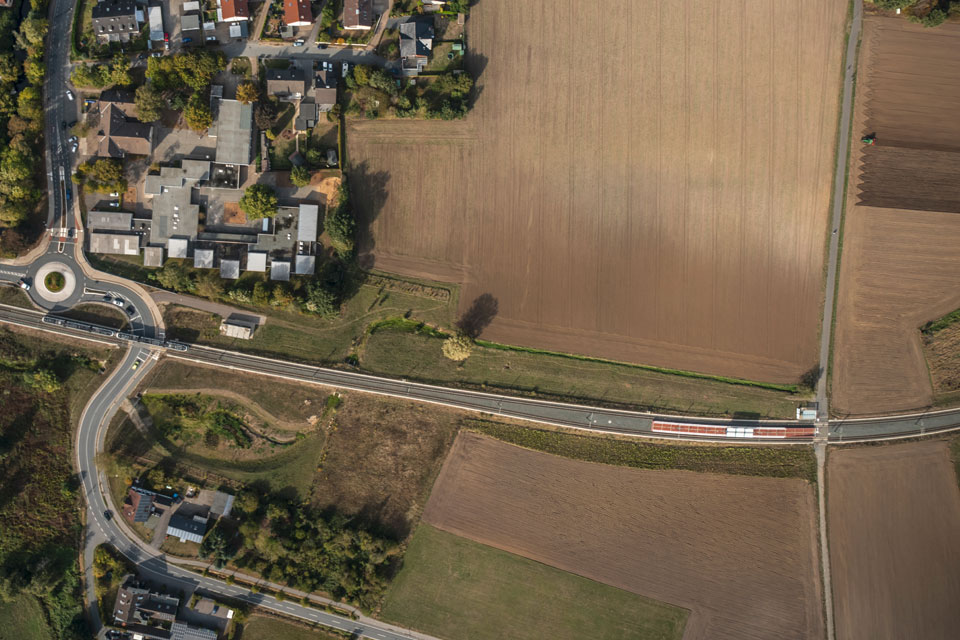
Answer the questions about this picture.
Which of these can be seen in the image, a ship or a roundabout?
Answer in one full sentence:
There is a roundabout in the scene.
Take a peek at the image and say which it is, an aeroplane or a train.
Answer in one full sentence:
The one in the frame is a train.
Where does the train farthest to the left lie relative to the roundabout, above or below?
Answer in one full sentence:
In the image, the train farthest to the left appears below the roundabout.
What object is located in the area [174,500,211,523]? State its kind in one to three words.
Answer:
building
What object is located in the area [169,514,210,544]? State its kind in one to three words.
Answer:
barn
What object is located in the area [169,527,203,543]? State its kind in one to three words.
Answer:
solar array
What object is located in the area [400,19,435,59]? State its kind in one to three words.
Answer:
house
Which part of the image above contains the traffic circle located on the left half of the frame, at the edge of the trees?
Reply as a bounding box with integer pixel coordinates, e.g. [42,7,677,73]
[24,250,87,314]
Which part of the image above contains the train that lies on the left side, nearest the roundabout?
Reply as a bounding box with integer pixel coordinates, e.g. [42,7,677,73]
[42,315,113,335]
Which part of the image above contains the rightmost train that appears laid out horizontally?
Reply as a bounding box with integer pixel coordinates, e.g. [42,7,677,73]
[116,331,188,350]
